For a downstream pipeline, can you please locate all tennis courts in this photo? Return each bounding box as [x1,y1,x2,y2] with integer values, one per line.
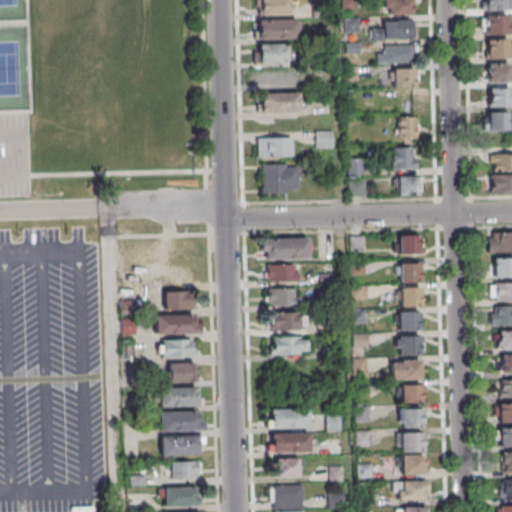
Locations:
[0,28,27,110]
[0,0,26,20]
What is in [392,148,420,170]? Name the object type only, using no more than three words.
house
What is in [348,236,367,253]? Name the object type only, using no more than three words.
building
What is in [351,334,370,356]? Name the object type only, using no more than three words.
building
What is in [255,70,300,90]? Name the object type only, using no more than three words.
house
